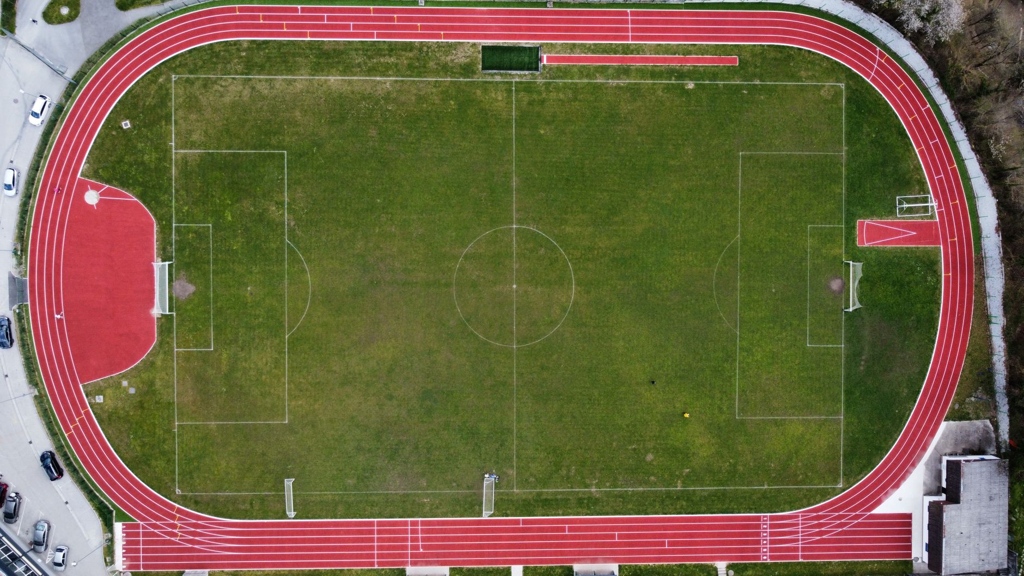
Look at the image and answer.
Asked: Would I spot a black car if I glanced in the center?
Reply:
No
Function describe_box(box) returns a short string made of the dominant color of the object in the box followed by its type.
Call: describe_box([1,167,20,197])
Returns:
white car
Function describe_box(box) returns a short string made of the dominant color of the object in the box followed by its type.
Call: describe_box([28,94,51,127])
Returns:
white car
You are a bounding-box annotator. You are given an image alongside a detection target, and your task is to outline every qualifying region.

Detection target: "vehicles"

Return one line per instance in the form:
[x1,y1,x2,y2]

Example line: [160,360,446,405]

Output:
[28,94,51,127]
[31,520,51,553]
[3,494,22,524]
[0,482,8,511]
[40,450,62,482]
[51,545,69,573]
[0,317,14,348]
[1,167,20,197]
